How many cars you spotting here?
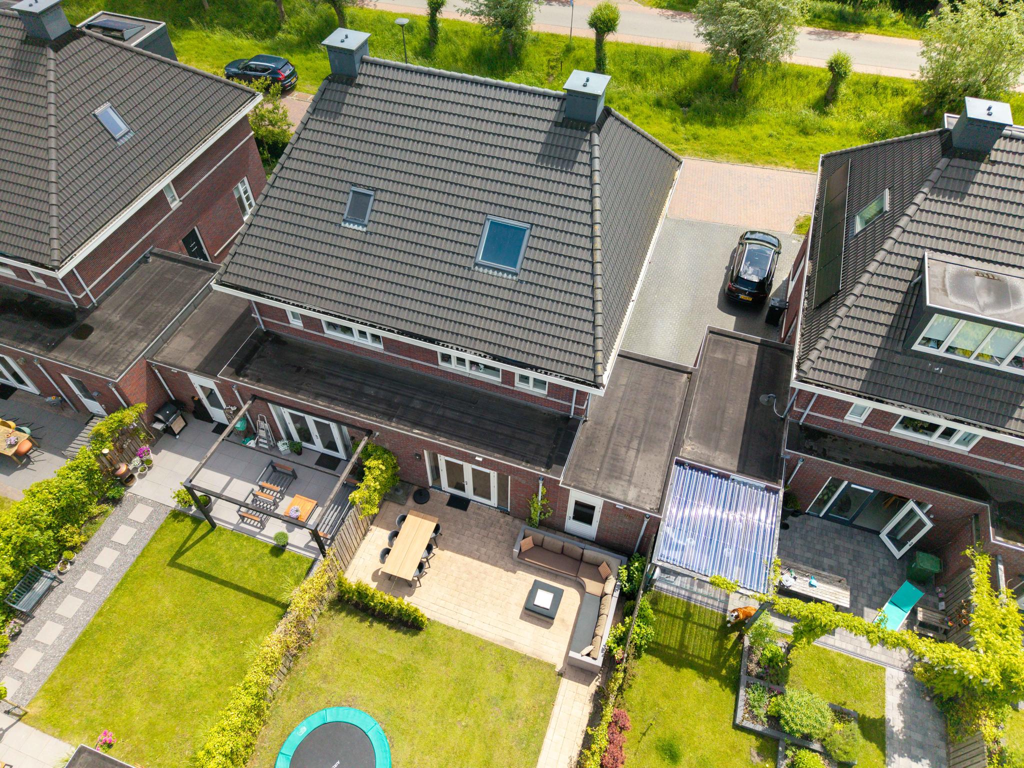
2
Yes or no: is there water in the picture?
No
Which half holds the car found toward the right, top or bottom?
top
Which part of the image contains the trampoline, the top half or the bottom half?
bottom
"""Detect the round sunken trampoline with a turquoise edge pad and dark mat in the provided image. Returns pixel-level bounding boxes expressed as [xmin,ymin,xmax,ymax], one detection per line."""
[275,707,392,768]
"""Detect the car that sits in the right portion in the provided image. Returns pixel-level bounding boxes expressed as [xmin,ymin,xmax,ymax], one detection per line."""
[726,231,783,305]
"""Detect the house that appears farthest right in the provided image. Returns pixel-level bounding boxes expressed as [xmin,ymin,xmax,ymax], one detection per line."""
[770,97,1024,608]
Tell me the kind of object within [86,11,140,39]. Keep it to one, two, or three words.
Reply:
solar panel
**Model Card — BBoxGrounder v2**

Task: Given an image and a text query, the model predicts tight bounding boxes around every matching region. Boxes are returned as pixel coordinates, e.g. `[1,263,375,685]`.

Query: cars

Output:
[726,231,783,305]
[226,52,301,96]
